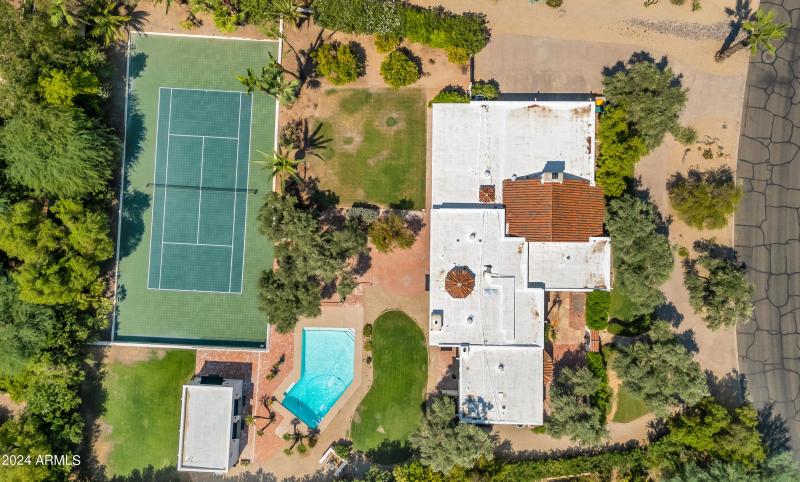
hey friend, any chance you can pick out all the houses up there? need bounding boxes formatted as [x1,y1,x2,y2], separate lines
[177,377,242,473]
[426,98,612,425]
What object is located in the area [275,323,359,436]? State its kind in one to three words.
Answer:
swimming pool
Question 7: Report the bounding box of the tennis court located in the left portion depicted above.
[118,37,280,346]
